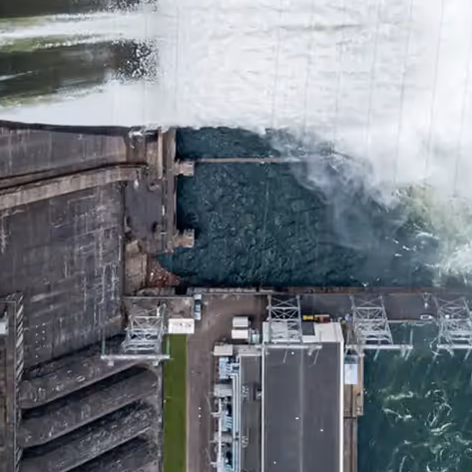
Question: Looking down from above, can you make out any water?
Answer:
Yes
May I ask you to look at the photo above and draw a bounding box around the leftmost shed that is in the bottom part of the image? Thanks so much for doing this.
[167,320,192,335]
